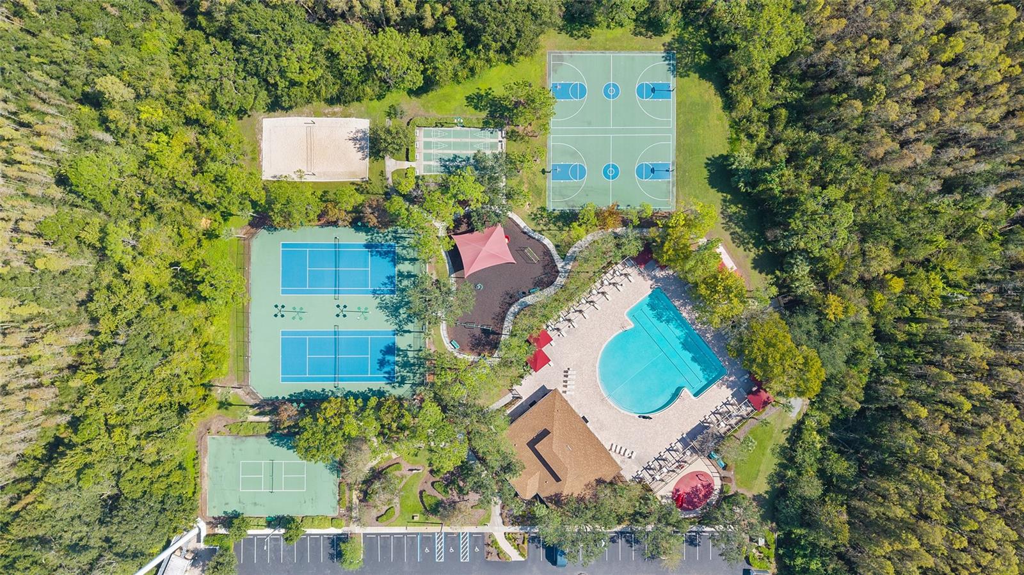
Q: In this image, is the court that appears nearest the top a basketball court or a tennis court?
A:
basketball court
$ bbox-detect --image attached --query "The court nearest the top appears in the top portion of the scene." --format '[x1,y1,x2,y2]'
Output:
[548,51,676,131]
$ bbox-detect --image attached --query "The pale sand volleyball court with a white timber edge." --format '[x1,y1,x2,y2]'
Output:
[262,117,369,181]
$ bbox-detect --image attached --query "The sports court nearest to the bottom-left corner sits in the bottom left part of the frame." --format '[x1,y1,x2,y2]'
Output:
[207,436,338,516]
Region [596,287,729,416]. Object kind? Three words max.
swimming pool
